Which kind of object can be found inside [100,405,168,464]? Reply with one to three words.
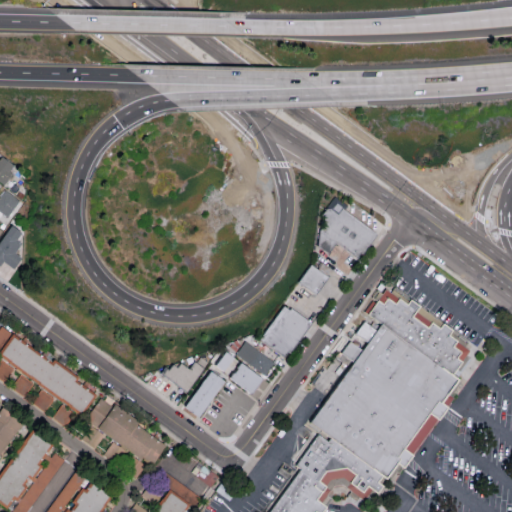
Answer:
building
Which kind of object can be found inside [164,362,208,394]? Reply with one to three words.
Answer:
building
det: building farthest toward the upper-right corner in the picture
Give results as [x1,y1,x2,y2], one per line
[320,196,378,258]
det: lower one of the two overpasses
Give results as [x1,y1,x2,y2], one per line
[112,63,470,108]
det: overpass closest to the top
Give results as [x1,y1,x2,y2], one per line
[50,6,258,38]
